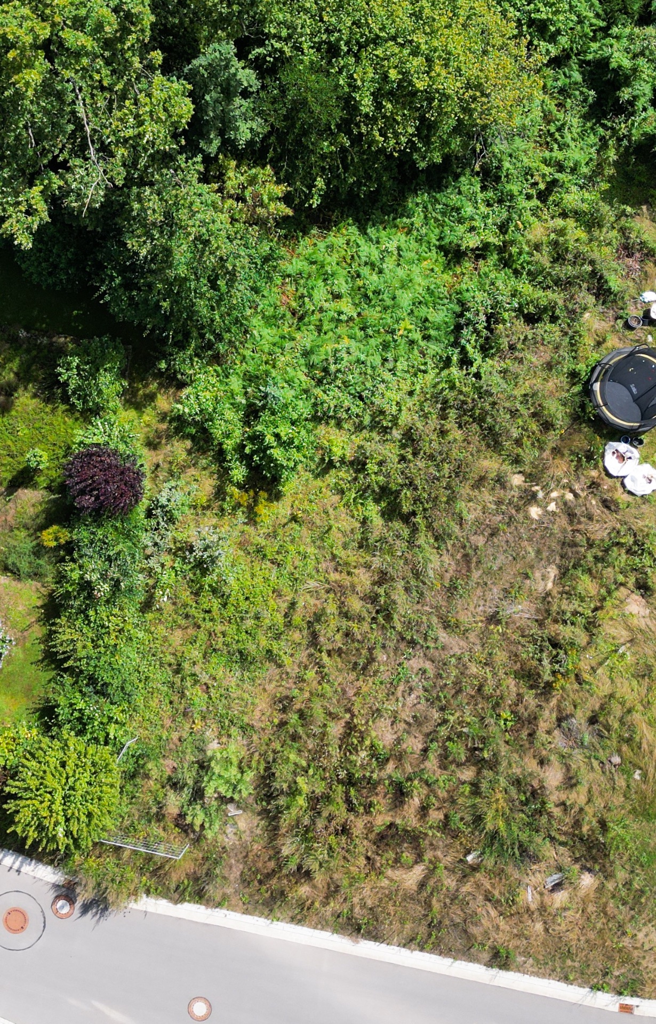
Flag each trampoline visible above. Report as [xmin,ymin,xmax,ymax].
[586,335,656,435]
